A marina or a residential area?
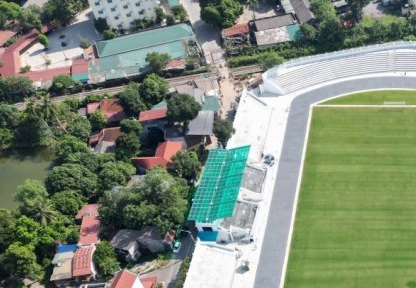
residential area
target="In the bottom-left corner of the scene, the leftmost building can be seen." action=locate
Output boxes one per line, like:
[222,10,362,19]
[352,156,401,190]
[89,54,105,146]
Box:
[51,244,77,286]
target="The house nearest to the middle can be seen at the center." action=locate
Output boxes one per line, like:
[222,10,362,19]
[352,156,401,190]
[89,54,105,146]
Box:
[186,111,216,141]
